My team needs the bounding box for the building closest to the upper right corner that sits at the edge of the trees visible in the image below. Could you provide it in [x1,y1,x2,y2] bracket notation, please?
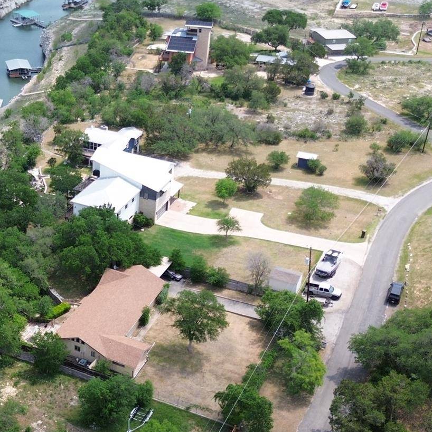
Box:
[306,26,356,59]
